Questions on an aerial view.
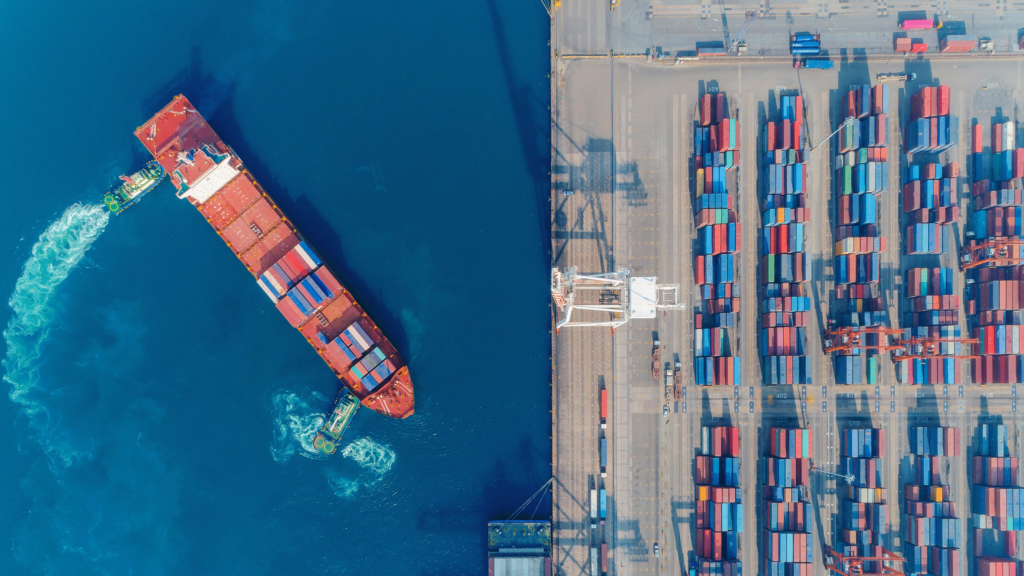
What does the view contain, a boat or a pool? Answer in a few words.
boat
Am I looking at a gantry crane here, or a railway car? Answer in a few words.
gantry crane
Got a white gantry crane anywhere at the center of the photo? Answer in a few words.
Yes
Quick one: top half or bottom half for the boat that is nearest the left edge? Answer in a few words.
top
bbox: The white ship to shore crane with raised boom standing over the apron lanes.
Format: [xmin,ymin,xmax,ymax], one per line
[553,258,683,341]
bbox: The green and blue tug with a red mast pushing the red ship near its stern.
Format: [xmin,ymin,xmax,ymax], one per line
[103,166,160,214]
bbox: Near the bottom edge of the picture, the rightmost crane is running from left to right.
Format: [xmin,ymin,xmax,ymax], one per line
[827,543,908,576]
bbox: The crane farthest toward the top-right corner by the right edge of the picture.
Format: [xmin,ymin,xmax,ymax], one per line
[964,240,1024,273]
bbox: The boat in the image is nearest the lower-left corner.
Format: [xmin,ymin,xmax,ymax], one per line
[315,393,362,457]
